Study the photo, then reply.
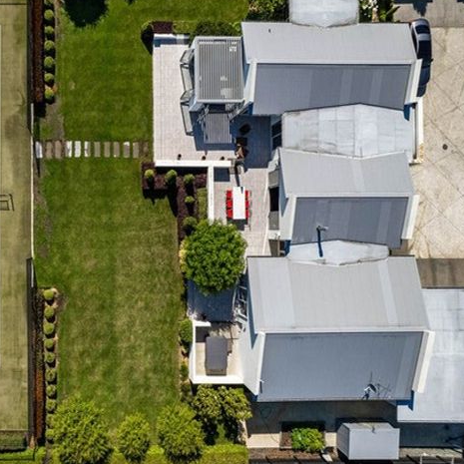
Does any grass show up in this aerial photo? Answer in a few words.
Yes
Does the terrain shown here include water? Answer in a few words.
No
